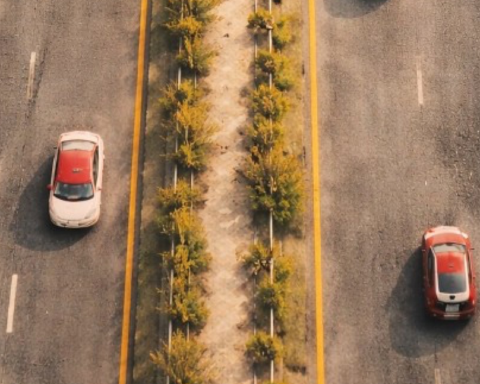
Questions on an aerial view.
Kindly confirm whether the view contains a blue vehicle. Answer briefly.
No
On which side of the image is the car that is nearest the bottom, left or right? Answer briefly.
right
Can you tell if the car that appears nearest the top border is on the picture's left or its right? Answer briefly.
left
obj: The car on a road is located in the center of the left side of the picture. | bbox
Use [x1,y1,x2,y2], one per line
[45,132,105,228]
